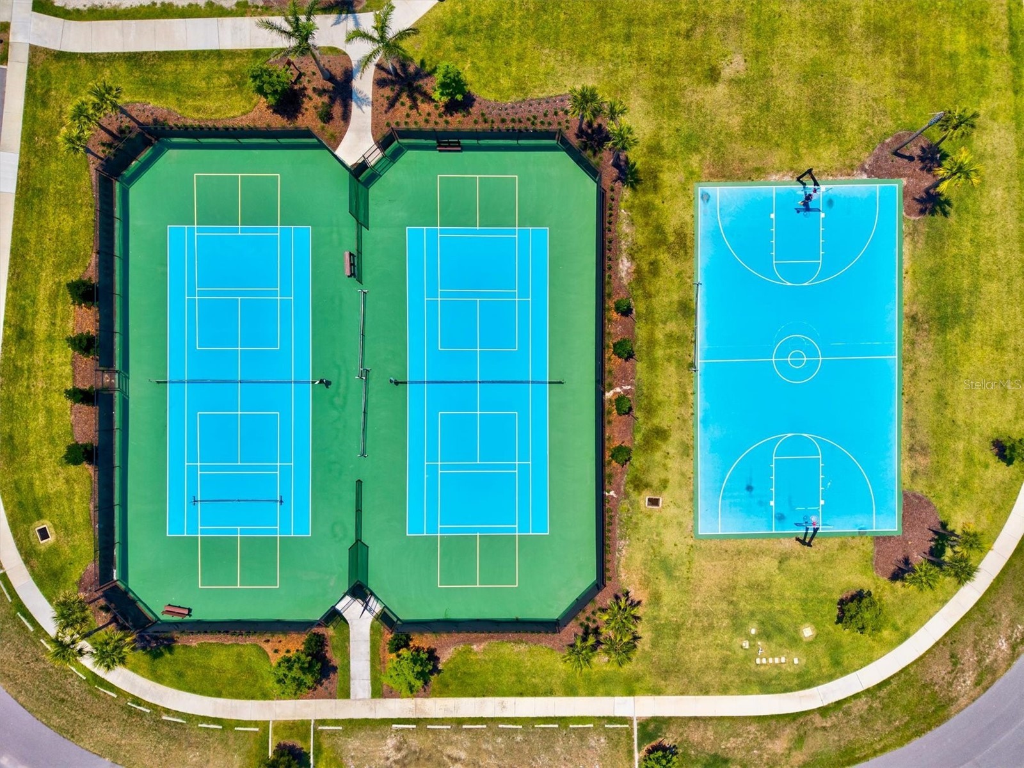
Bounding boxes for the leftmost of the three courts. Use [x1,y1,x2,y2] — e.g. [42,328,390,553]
[115,139,358,620]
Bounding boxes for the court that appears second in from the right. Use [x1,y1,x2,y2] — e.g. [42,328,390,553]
[358,139,599,621]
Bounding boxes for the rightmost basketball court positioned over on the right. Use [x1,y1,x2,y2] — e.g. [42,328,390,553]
[695,180,903,539]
